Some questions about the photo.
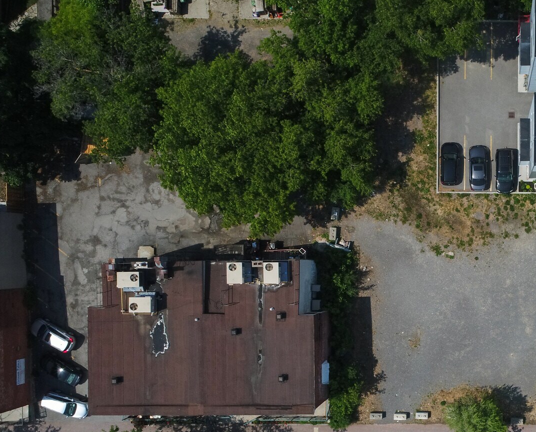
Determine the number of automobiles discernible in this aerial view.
6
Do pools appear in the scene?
No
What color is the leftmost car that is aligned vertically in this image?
black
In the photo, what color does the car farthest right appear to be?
black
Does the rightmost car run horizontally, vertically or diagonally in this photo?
vertically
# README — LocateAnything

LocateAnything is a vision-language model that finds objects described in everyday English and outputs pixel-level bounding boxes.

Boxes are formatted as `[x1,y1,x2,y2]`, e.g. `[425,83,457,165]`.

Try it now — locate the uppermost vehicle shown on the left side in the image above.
[32,318,80,355]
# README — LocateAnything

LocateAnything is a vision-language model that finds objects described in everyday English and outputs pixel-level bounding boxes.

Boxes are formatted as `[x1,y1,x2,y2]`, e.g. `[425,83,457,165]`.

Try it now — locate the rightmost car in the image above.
[494,146,518,193]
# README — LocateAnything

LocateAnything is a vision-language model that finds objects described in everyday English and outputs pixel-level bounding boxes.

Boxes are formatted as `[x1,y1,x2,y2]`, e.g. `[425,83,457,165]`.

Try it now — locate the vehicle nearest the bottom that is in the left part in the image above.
[39,390,86,419]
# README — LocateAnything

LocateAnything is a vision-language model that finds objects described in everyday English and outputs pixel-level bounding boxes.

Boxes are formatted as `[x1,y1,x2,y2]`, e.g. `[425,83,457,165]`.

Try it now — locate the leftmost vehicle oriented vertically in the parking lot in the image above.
[439,142,462,188]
